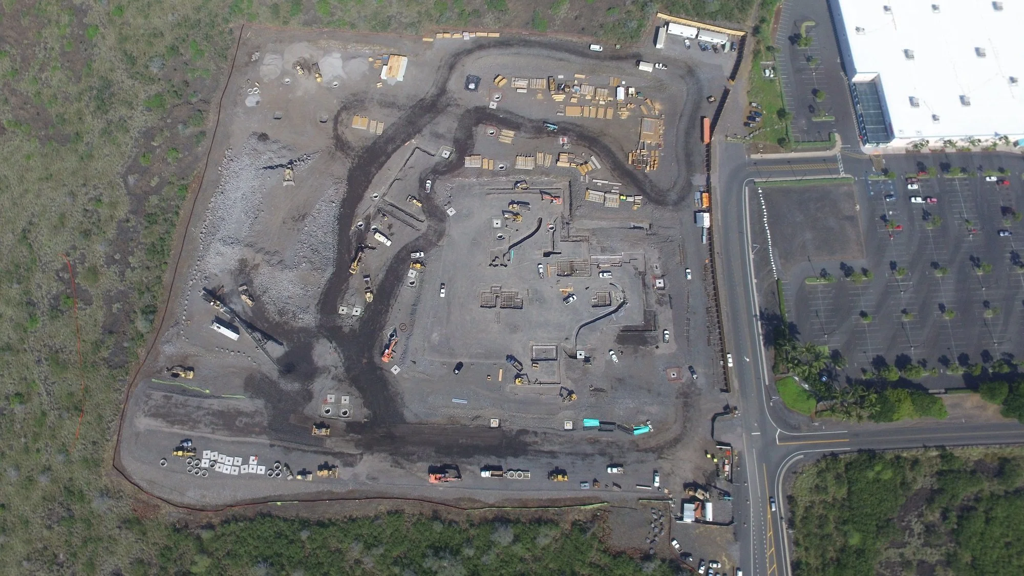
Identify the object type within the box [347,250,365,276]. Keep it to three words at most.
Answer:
work vehicle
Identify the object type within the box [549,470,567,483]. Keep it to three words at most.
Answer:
vehicle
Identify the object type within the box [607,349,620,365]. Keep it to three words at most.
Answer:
vehicle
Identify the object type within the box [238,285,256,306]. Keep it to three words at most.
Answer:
work vehicle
